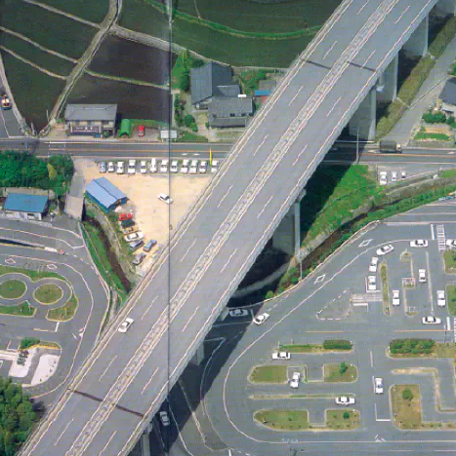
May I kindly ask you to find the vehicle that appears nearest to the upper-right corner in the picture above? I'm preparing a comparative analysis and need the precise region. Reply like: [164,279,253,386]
[378,140,402,152]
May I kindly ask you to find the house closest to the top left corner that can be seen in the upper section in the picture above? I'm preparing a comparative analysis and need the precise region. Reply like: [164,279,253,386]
[66,105,117,134]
